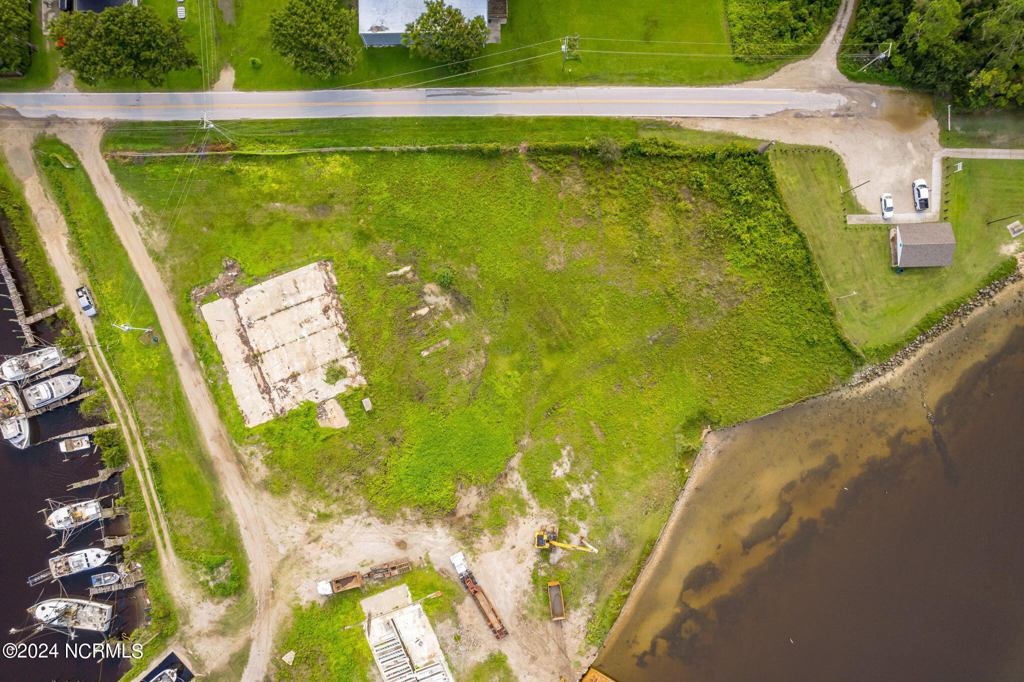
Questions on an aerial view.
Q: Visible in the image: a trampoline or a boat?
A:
boat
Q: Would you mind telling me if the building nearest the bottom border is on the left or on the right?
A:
right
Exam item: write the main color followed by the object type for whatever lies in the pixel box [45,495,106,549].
white boat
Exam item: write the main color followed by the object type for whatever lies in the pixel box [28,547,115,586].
white boat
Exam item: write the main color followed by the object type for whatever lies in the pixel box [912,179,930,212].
white vehicle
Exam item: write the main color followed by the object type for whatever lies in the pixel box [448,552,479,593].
white truck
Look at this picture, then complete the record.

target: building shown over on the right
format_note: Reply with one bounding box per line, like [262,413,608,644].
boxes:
[887,223,956,268]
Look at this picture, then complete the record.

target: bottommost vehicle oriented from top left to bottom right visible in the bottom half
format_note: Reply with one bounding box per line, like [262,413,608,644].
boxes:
[465,577,515,653]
